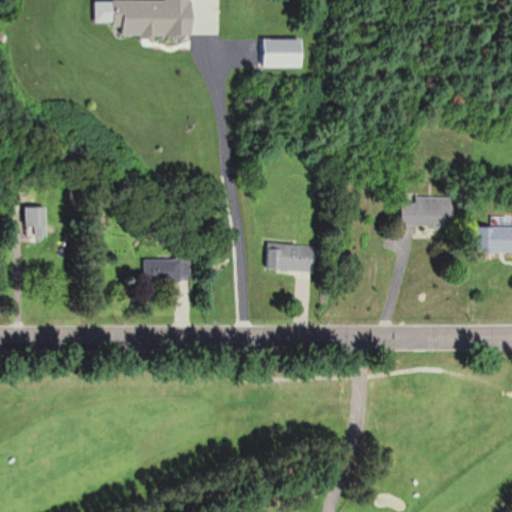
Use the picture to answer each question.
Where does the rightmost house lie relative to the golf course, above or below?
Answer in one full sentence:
The rightmost house is found above the golf course in the photo.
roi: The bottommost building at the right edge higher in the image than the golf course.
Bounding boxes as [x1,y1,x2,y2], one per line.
[480,227,512,261]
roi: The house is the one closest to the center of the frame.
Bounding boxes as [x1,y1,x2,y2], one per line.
[266,242,314,272]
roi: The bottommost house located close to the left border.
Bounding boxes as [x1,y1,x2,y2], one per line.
[24,207,47,242]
